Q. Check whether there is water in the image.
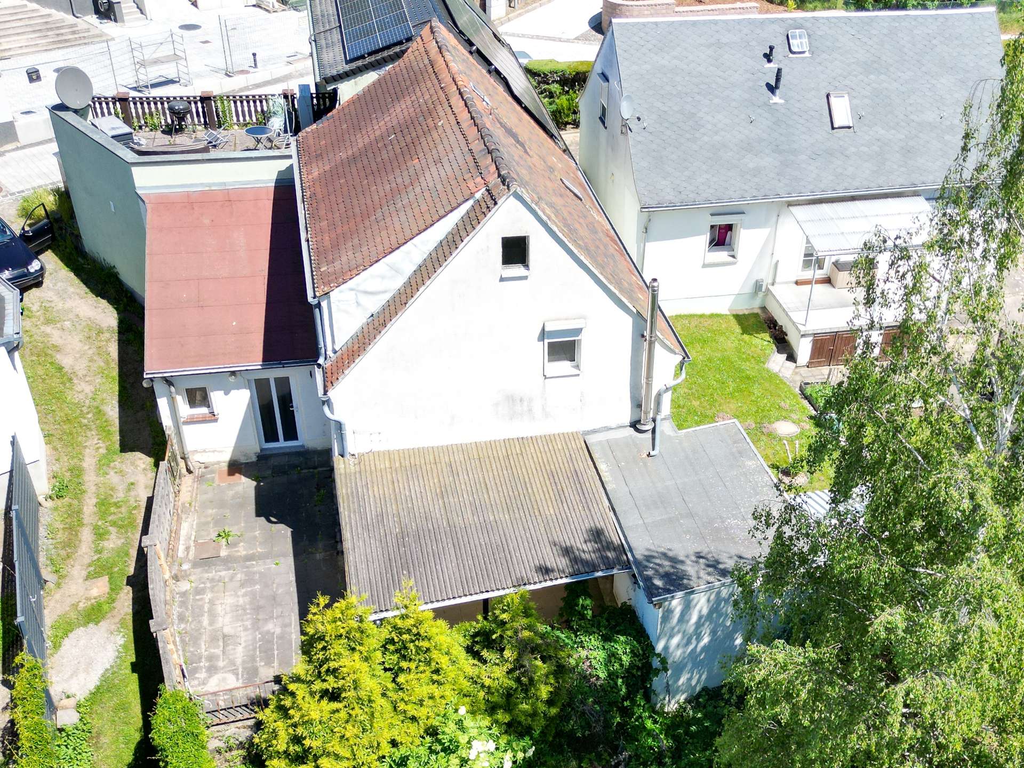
No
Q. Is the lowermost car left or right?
left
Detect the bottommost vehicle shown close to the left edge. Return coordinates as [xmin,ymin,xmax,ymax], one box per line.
[0,204,52,287]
